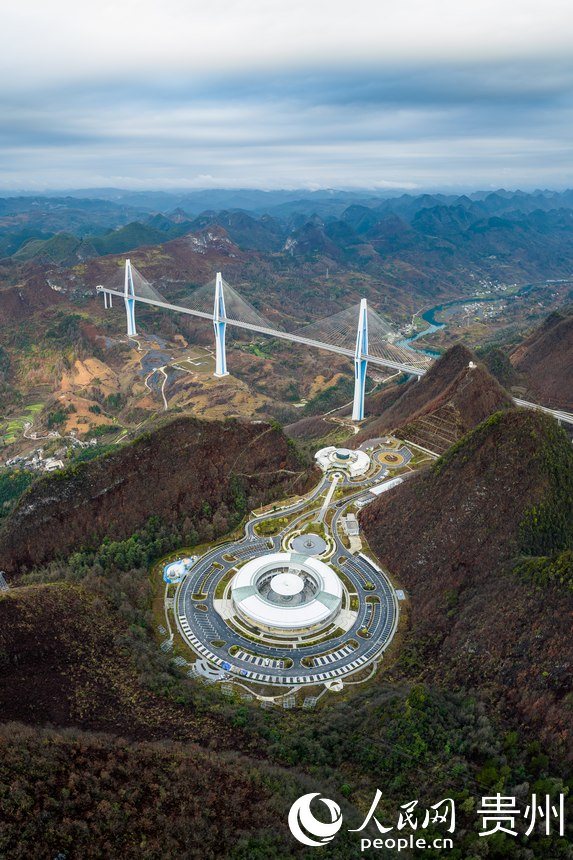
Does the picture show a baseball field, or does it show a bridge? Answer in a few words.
bridge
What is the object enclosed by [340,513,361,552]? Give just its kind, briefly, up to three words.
building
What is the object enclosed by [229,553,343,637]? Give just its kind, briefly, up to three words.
building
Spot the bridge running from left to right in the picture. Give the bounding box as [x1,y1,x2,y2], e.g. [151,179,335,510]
[83,259,421,416]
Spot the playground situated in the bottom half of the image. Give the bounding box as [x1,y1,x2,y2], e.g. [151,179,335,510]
[164,554,199,584]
